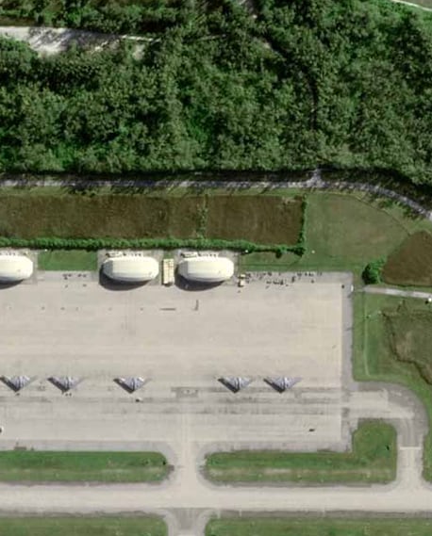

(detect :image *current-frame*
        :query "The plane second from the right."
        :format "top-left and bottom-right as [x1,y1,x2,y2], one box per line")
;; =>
[220,376,254,392]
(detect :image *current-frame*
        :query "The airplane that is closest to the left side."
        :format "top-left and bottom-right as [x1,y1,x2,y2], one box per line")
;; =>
[1,376,35,391]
